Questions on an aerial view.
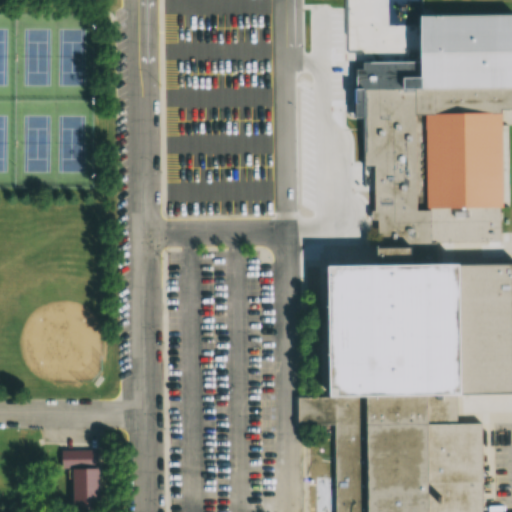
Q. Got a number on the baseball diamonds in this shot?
1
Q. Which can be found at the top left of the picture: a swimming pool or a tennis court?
tennis court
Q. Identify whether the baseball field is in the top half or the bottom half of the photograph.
bottom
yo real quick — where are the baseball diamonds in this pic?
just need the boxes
[20,300,104,382]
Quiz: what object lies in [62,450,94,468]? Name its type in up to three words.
house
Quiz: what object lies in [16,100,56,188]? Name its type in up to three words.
tennis court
